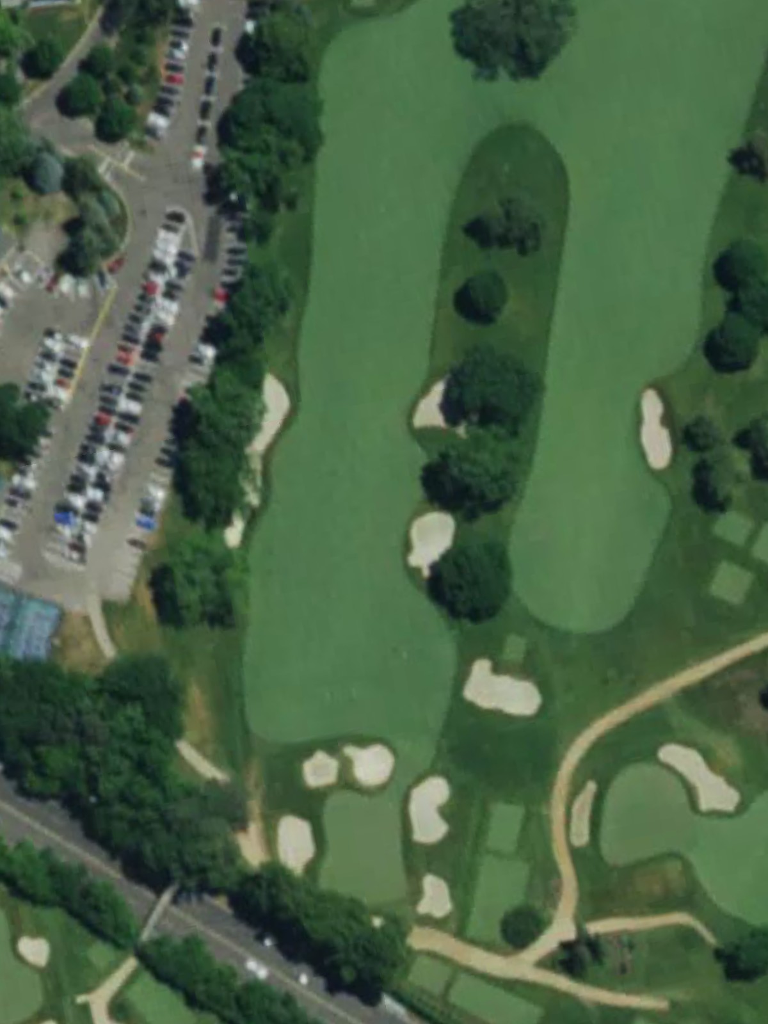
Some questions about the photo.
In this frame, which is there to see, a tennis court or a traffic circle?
tennis court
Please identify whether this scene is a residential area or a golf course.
golf course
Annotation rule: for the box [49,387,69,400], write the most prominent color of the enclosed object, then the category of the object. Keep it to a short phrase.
white vehicle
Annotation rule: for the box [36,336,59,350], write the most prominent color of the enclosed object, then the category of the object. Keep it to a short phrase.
white vehicle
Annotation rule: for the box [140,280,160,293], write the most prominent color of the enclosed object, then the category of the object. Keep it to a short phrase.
red vehicle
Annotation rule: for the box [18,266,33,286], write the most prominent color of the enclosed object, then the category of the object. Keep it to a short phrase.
white car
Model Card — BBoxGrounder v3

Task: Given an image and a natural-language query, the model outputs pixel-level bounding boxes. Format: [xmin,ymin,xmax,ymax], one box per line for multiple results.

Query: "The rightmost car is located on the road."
[294,971,312,985]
